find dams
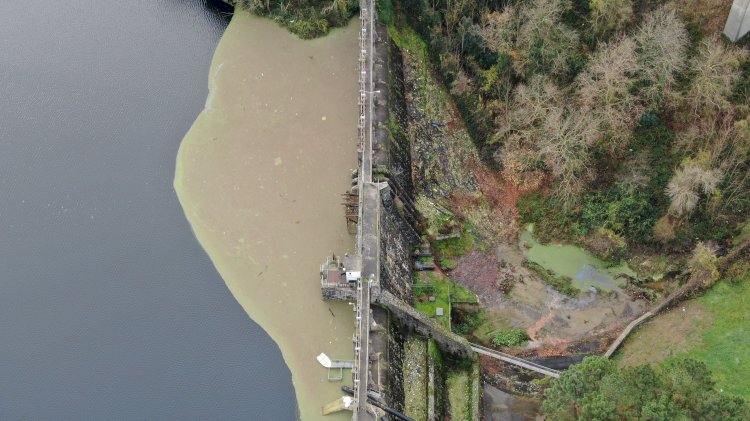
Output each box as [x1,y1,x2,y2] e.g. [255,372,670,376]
[349,0,428,421]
